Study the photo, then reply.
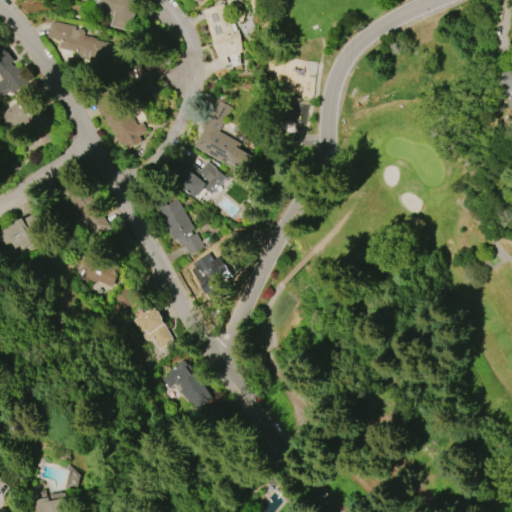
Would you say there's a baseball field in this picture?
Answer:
No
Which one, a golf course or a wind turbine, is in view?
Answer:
golf course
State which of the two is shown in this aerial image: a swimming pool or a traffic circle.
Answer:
swimming pool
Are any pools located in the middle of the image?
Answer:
Yes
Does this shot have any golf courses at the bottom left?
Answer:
No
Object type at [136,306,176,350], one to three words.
house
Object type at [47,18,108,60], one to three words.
house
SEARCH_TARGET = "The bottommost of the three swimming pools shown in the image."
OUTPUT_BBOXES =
[264,484,288,512]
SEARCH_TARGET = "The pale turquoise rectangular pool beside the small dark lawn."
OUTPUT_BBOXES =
[212,191,245,221]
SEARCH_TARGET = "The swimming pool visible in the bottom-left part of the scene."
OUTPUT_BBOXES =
[38,462,70,492]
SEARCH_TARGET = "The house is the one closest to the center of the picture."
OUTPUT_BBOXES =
[187,252,234,294]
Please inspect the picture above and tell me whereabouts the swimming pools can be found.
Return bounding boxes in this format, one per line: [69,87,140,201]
[38,462,70,492]
[264,484,288,512]
[212,191,245,221]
